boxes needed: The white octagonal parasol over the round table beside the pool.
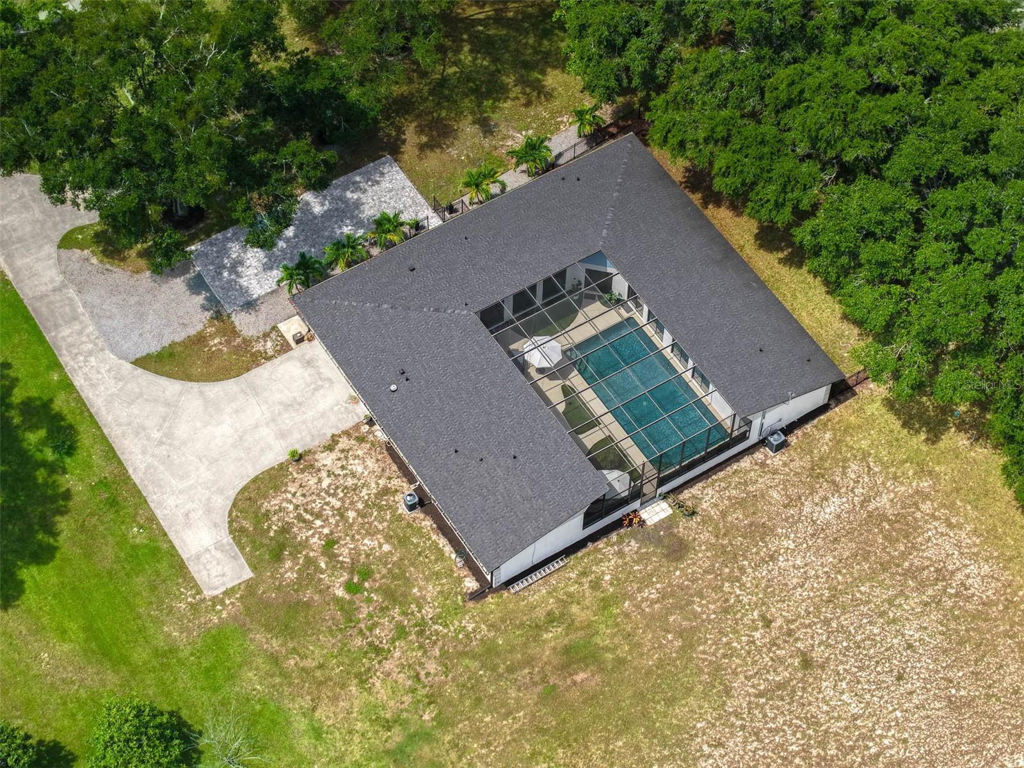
[522,337,563,372]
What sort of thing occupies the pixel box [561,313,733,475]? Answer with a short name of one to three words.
swimming pool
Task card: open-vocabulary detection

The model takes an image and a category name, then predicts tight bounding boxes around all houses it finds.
[287,133,845,590]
